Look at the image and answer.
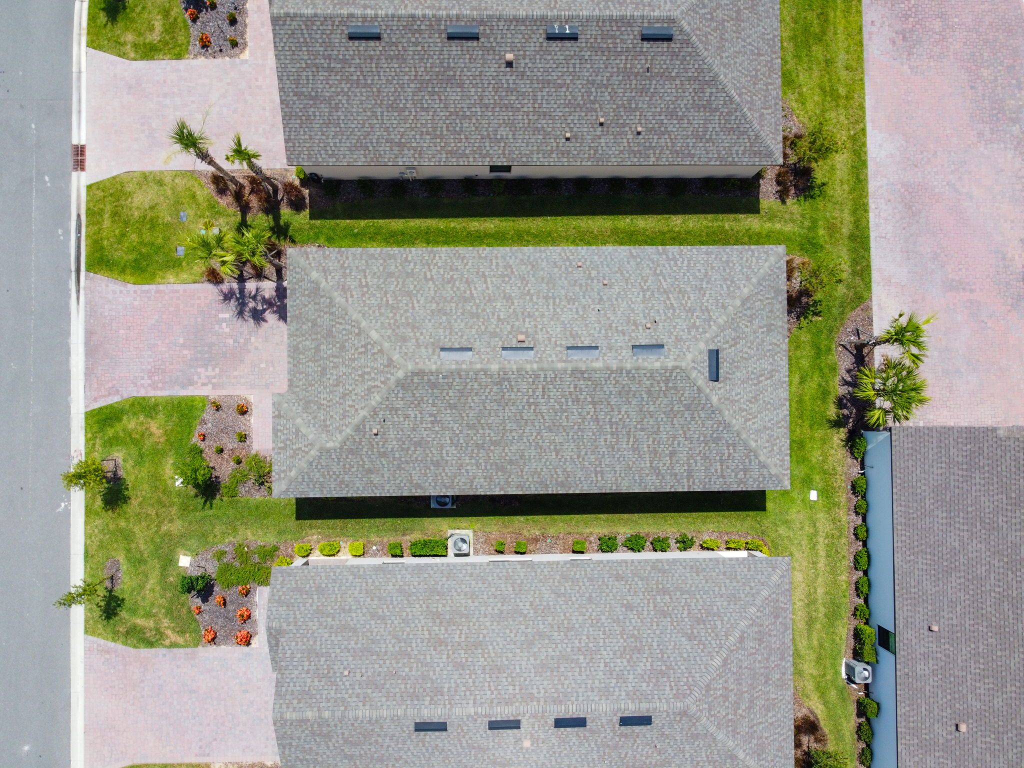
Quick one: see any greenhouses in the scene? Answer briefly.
No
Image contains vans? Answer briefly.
No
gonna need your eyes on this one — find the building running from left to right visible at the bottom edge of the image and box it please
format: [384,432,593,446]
[265,550,798,768]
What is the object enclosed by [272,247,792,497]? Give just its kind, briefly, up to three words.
house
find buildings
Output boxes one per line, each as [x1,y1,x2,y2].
[268,0,784,181]
[272,247,792,497]
[265,550,798,768]
[862,424,1024,768]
